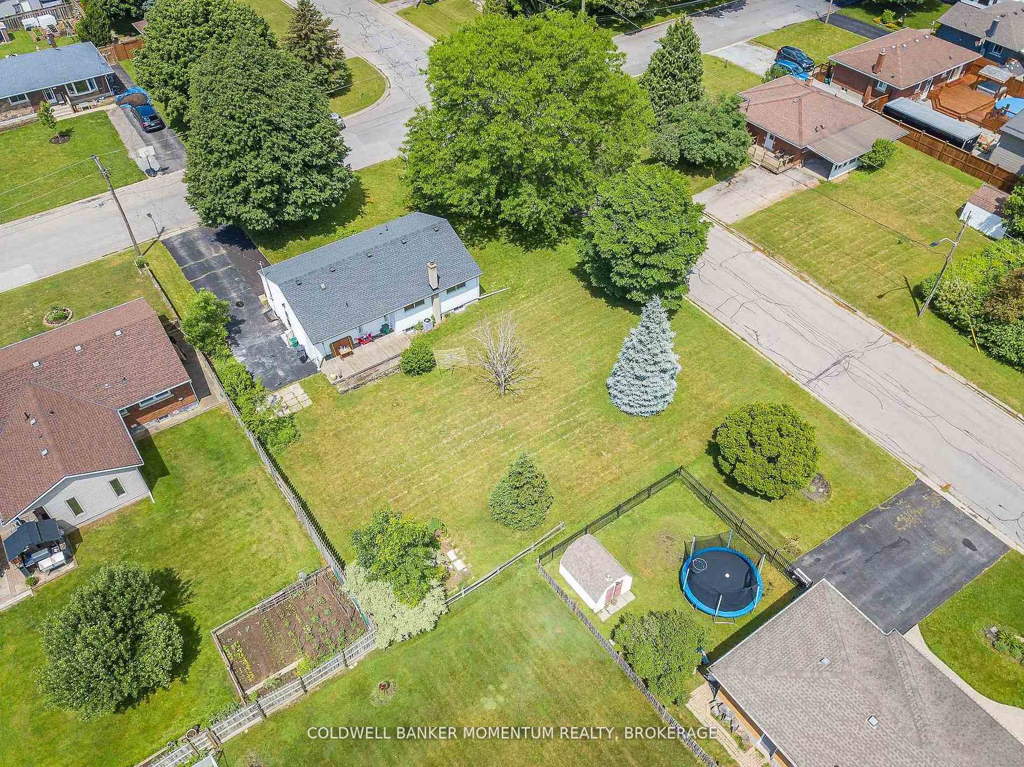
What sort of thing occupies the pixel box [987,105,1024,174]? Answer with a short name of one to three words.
house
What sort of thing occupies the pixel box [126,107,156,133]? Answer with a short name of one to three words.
car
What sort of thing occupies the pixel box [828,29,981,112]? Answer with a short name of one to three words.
house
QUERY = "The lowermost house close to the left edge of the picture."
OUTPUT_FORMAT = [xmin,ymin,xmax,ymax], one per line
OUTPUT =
[0,294,198,528]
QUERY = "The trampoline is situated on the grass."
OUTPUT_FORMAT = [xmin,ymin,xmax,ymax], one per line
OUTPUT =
[679,529,768,624]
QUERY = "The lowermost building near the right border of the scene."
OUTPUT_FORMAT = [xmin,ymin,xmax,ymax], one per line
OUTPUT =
[703,578,1024,767]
